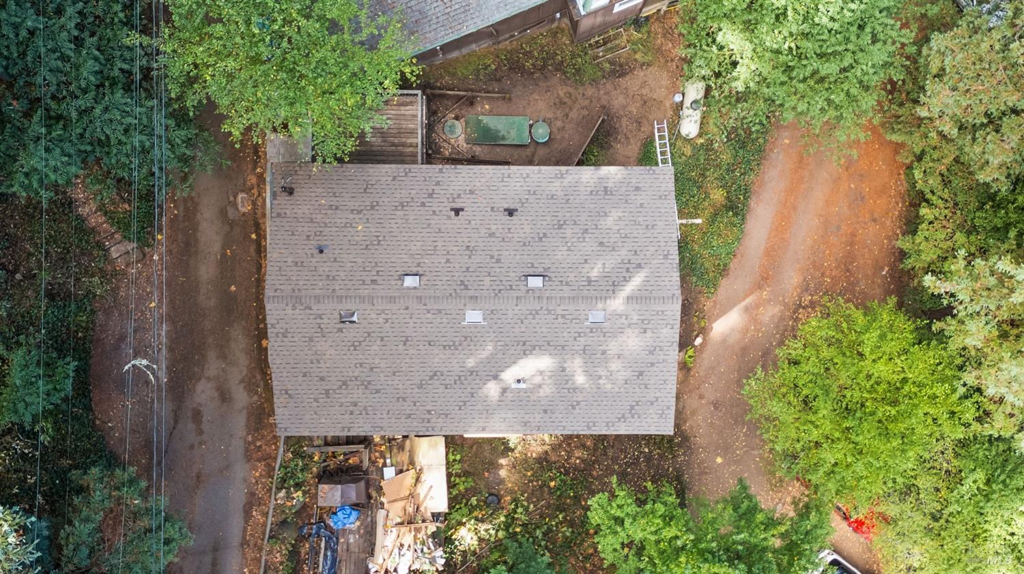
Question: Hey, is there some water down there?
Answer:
No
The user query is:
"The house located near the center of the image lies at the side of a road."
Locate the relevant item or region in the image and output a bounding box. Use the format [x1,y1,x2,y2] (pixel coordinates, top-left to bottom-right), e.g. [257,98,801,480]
[263,164,682,437]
